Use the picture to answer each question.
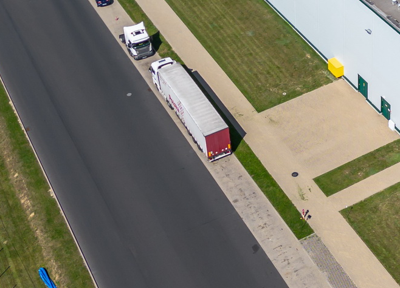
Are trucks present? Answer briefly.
Yes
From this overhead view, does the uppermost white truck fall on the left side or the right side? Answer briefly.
left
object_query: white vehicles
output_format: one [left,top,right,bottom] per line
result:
[119,15,154,57]
[145,47,233,158]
